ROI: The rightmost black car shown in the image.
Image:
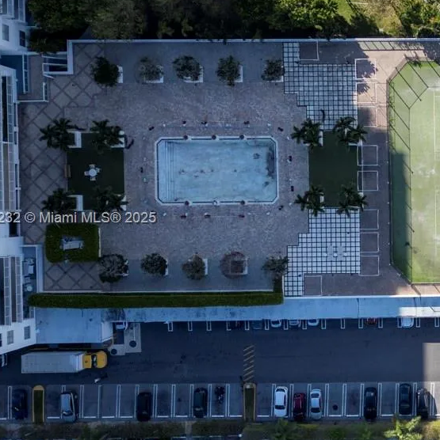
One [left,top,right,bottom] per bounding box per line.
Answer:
[416,388,431,419]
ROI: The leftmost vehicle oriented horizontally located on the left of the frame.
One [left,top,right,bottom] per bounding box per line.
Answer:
[23,349,114,371]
